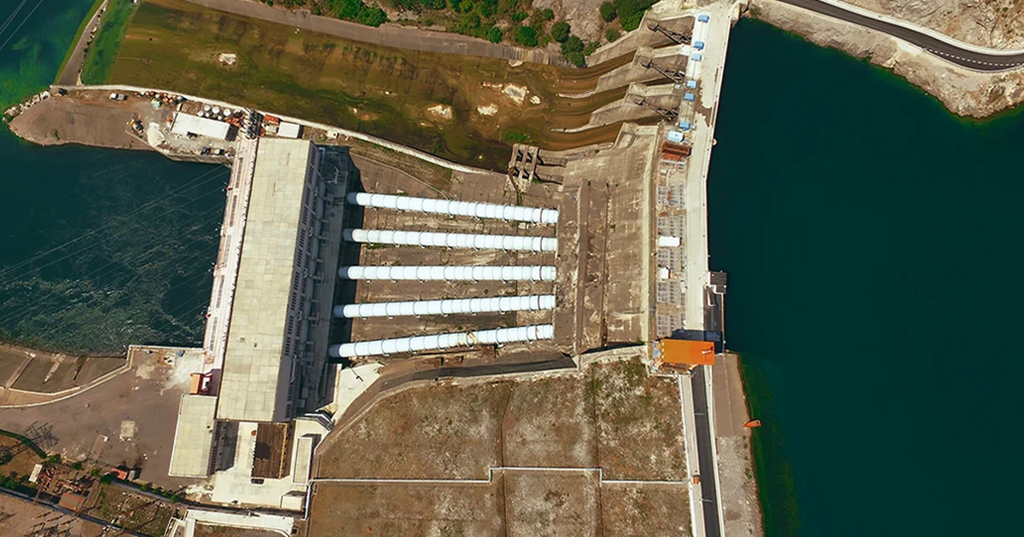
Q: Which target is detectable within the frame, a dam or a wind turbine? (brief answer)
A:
dam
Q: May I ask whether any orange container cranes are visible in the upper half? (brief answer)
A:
No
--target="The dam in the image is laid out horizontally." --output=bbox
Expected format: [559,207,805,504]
[313,354,692,537]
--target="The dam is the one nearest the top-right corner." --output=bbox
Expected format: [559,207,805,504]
[553,0,738,351]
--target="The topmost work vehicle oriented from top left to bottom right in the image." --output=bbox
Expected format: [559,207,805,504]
[128,117,141,133]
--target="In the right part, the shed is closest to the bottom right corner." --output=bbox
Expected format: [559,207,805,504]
[708,271,728,295]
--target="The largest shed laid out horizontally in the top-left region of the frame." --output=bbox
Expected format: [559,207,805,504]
[172,113,234,142]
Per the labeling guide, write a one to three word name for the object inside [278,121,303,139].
shed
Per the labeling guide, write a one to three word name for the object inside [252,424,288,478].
building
